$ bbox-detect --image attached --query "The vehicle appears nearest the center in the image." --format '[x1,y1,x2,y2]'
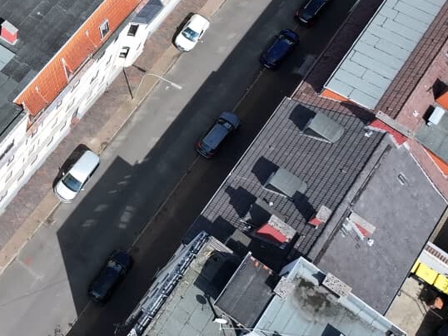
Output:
[190,110,241,166]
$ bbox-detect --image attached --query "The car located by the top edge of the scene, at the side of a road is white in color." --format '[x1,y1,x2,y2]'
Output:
[170,12,213,57]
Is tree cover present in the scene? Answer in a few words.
No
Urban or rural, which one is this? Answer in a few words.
urban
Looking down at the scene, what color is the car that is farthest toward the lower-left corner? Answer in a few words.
black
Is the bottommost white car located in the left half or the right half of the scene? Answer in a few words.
left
